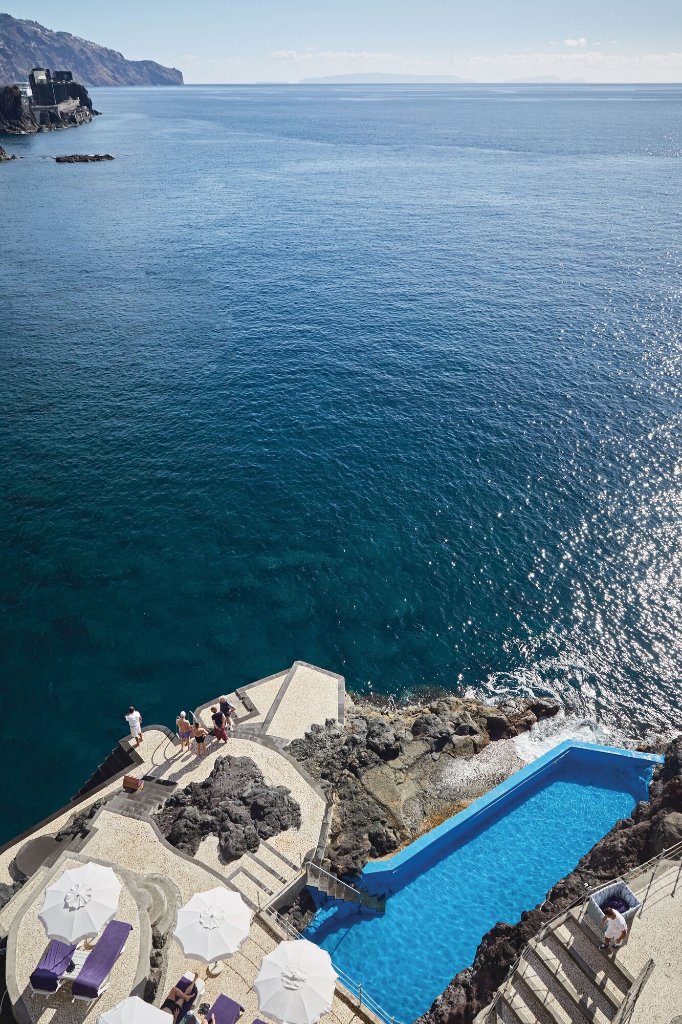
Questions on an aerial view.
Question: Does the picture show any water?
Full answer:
Yes, some water is visible.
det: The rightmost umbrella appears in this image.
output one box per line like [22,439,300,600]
[256,937,341,1024]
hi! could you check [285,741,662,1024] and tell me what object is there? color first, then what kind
blue swimming pool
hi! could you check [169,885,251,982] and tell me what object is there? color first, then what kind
white umbrella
